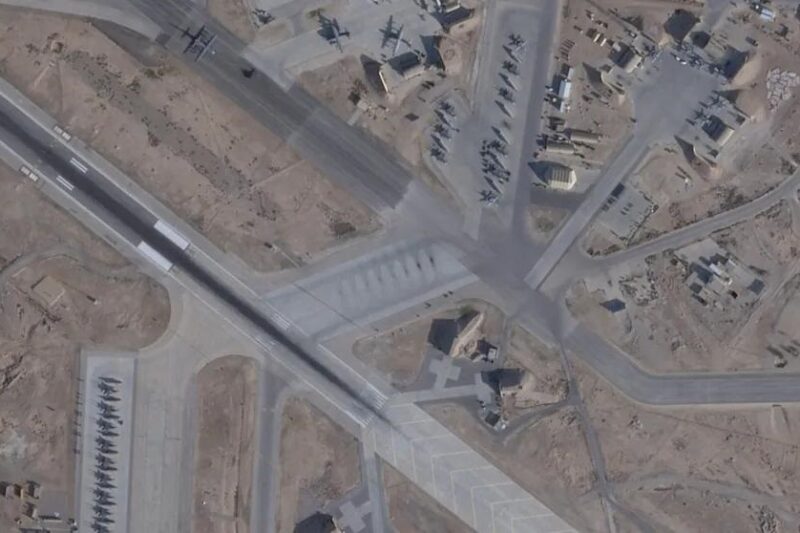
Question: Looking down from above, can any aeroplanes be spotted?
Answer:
Yes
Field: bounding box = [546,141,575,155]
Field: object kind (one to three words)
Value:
building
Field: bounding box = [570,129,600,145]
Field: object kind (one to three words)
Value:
building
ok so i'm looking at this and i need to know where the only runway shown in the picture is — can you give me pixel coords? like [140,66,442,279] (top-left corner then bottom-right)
[0,76,577,533]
